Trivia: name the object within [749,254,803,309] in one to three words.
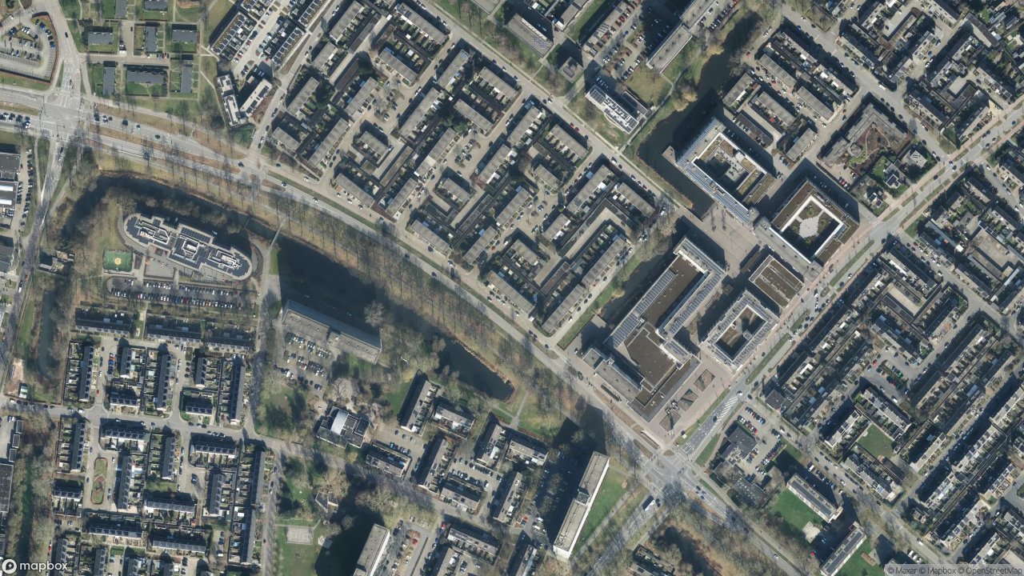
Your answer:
building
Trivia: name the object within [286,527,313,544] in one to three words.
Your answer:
sports court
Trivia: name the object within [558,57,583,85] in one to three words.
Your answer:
building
